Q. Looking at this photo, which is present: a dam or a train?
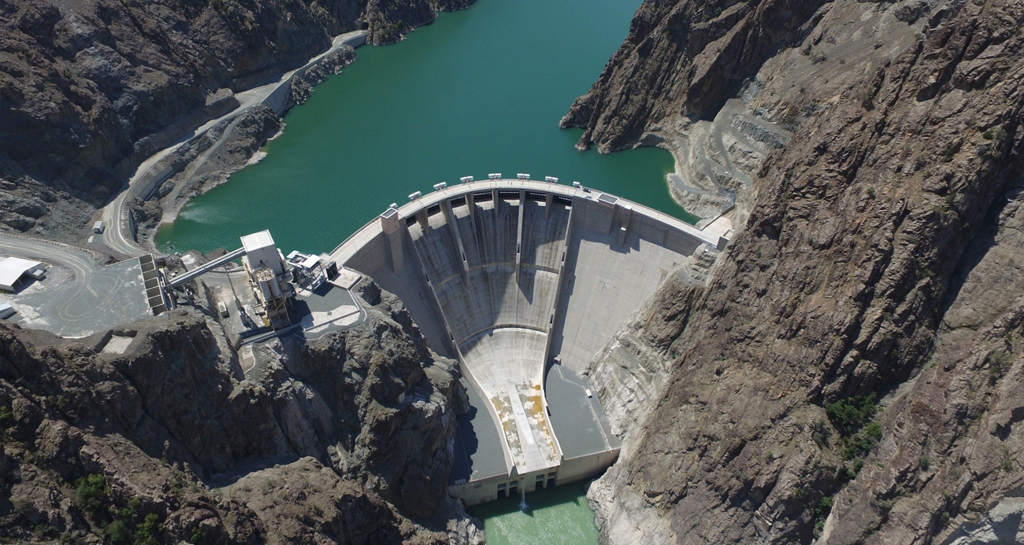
dam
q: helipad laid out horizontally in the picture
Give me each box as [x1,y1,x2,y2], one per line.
[301,305,360,332]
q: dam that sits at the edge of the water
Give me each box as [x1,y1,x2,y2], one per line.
[318,178,736,477]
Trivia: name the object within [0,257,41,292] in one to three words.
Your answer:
building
